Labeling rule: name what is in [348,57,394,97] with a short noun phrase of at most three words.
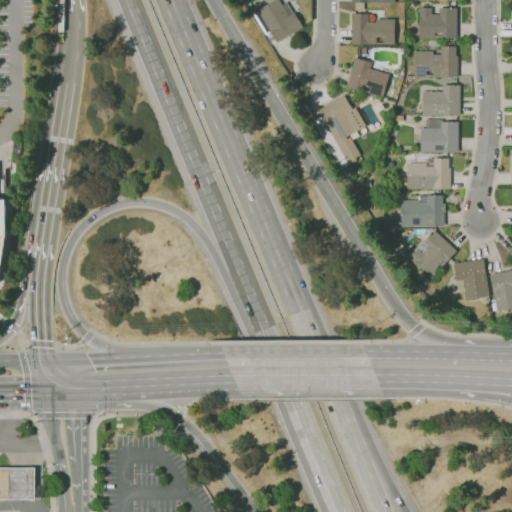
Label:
house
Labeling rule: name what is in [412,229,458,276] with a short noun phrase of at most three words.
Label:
house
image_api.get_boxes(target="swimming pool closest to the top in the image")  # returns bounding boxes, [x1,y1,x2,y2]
[374,51,399,64]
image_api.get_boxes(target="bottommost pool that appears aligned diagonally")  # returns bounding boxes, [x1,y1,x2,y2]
[362,104,379,125]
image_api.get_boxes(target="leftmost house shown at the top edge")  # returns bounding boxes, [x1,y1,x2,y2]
[253,0,303,40]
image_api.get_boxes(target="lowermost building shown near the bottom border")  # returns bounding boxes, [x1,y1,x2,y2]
[0,468,35,502]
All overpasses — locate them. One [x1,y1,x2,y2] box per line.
[204,331,403,412]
